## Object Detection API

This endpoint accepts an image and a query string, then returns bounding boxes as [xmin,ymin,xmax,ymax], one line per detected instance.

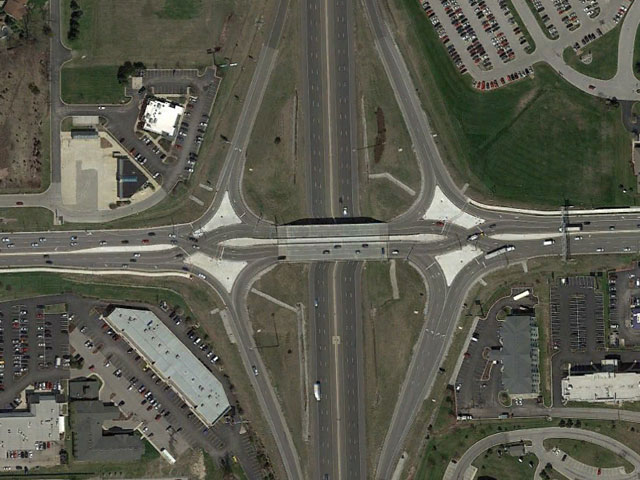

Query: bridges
[278,222,389,261]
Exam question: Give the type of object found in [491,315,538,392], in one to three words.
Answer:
building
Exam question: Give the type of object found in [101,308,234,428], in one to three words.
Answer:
building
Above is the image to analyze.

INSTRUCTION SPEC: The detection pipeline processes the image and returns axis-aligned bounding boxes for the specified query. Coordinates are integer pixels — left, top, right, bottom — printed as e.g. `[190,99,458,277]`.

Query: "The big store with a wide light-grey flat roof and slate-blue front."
[0,394,69,451]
